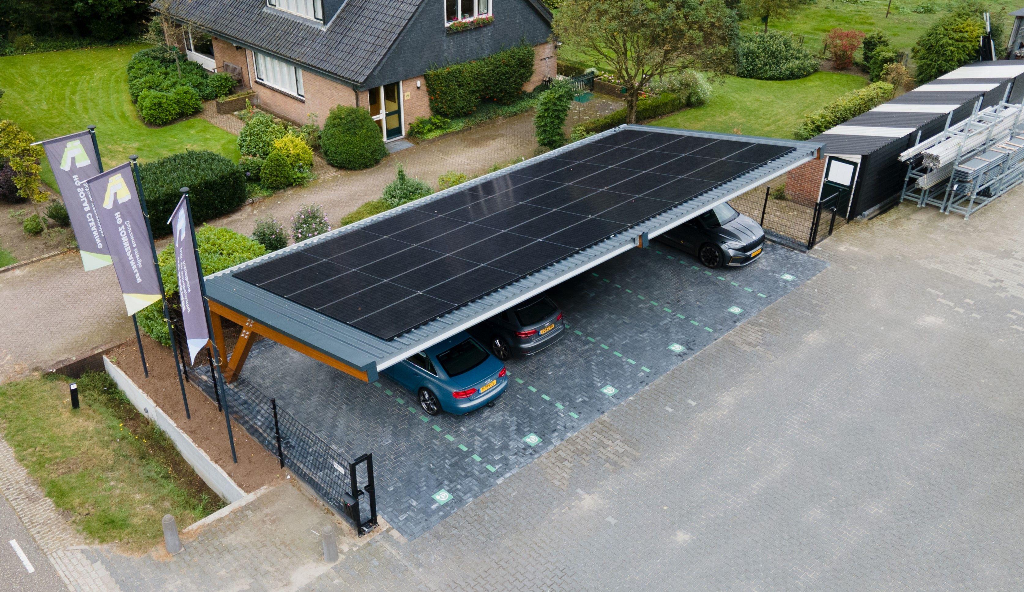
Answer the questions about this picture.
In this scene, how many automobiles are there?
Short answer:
3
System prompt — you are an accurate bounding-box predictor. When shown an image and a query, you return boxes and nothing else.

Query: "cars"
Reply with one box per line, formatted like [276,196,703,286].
[456,286,570,361]
[385,324,514,418]
[641,196,772,267]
